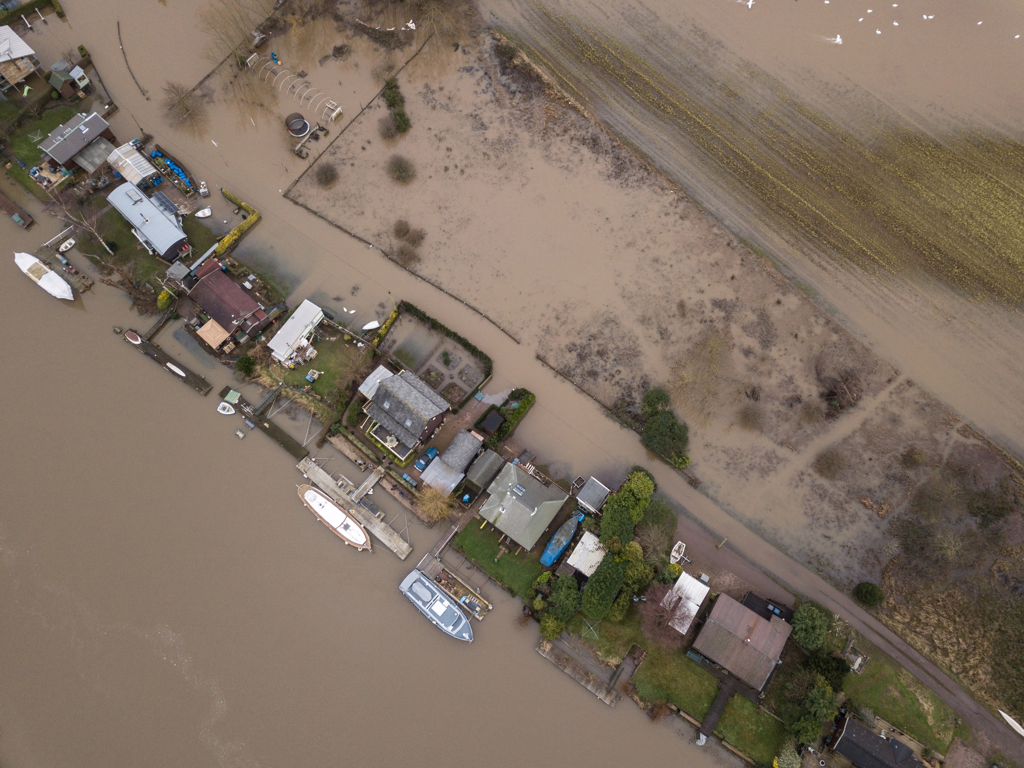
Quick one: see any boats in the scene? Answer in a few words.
Yes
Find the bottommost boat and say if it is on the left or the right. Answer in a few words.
right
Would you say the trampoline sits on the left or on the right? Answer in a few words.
left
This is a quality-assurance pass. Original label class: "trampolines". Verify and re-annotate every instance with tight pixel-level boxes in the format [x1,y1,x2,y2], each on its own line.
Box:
[287,115,310,139]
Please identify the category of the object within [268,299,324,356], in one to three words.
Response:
house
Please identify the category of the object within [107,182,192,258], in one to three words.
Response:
building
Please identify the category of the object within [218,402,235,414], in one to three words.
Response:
boat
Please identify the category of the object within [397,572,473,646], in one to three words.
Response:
boat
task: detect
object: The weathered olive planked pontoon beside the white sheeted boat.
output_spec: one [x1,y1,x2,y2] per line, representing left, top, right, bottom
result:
[35,249,95,289]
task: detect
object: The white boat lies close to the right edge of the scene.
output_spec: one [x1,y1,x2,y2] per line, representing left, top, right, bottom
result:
[999,710,1024,736]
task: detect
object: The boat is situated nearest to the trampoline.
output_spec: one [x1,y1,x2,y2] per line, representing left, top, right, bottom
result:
[194,206,211,218]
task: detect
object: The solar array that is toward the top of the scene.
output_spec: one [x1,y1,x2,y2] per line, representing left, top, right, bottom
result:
[152,191,186,216]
